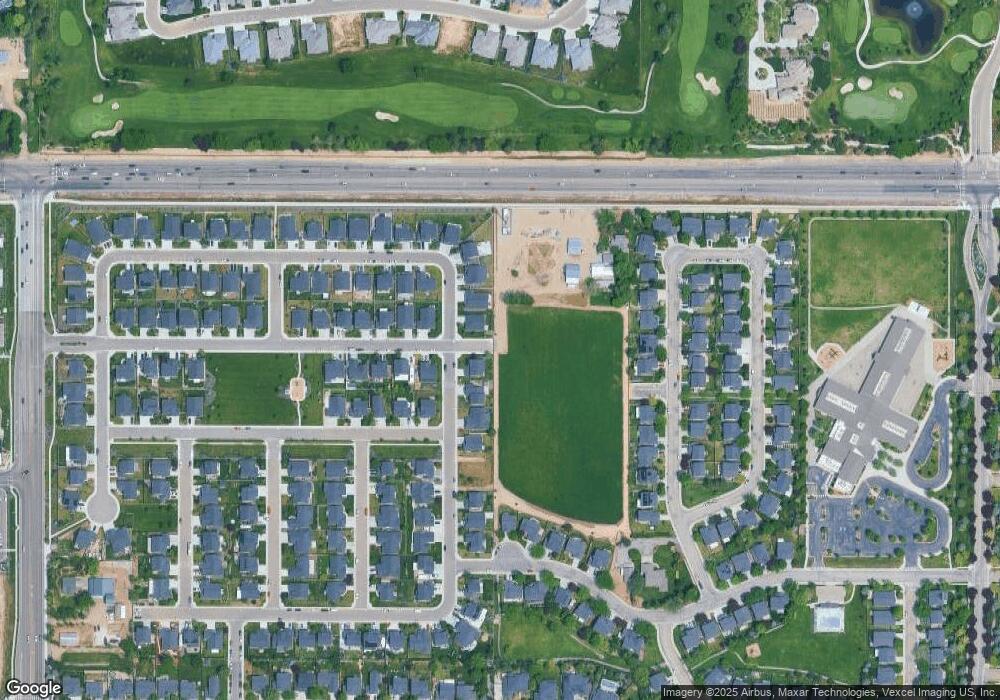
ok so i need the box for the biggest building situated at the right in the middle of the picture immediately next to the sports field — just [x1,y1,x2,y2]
[813,315,925,494]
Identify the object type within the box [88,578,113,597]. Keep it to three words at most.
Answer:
building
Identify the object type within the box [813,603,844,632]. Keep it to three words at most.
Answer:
swimming pool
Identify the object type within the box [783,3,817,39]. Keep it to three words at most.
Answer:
house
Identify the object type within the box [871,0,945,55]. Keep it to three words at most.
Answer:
pond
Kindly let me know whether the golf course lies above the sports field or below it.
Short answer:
above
